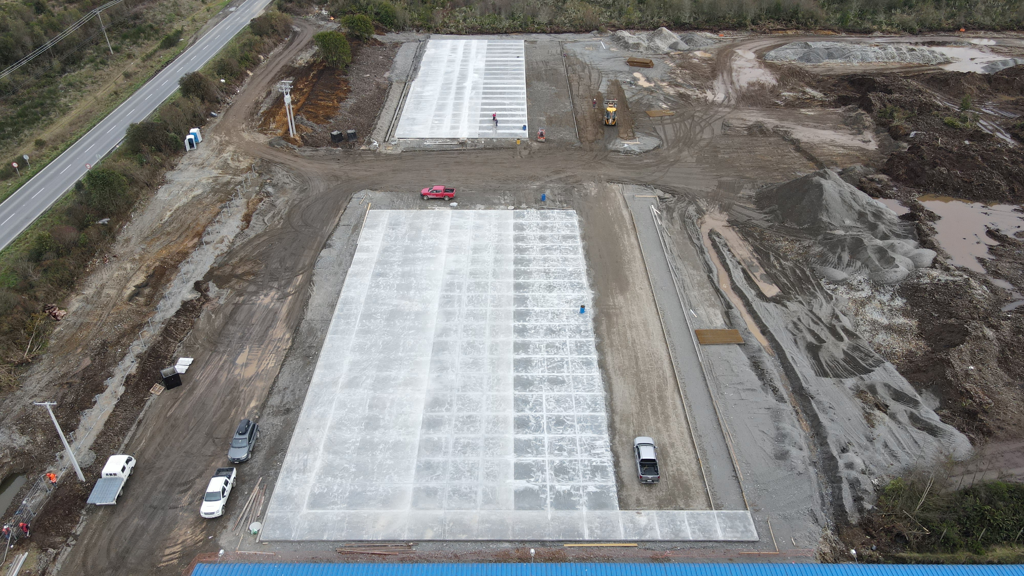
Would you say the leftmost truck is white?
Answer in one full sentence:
Yes, the leftmost truck is indeed white.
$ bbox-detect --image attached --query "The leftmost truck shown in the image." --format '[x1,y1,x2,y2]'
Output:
[89,456,135,509]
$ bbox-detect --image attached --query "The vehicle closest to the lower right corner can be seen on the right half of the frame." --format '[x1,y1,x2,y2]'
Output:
[633,434,663,482]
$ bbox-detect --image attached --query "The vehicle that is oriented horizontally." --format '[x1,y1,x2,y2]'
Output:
[419,185,458,201]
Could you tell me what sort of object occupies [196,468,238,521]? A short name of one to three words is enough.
truck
